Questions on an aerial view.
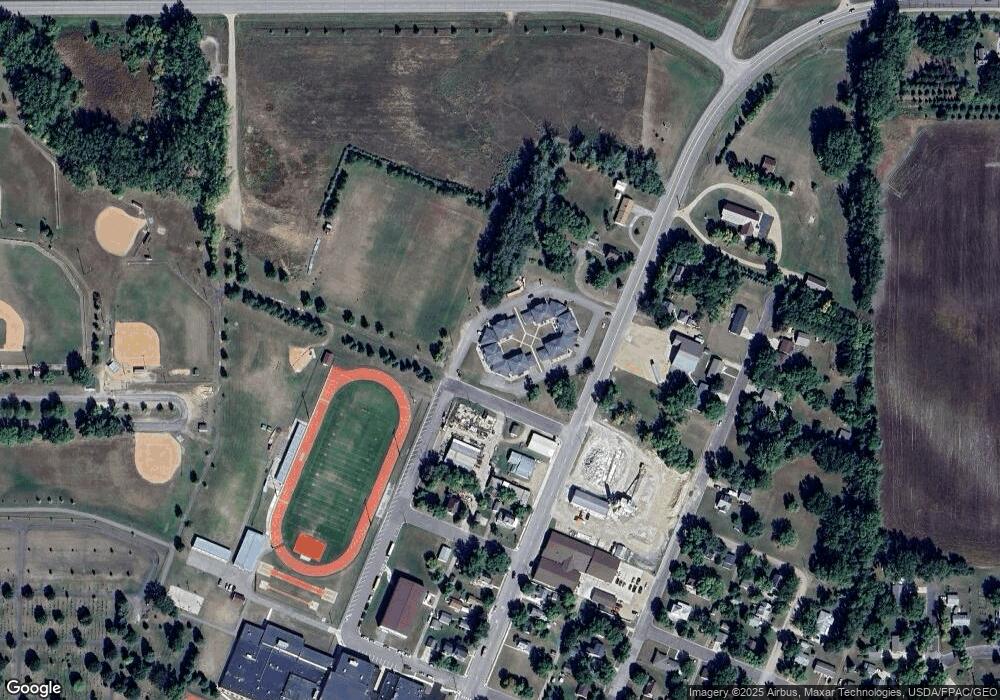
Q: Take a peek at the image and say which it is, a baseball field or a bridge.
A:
baseball field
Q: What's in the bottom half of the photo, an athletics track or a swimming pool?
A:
athletics track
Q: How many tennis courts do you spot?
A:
0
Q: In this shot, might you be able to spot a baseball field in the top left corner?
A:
Yes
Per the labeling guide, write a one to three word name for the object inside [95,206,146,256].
baseball field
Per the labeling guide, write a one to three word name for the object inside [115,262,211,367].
baseball field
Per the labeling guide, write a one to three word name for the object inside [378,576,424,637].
building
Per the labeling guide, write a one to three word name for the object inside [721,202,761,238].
house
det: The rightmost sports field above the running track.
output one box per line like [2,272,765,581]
[322,157,482,331]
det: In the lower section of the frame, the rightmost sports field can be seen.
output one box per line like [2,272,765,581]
[285,383,396,564]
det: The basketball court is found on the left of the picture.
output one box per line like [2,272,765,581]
[169,585,204,615]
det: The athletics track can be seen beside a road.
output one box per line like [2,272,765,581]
[272,370,410,577]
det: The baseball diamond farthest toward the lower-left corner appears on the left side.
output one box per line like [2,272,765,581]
[136,432,181,483]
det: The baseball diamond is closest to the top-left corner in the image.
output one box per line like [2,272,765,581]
[0,124,56,234]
